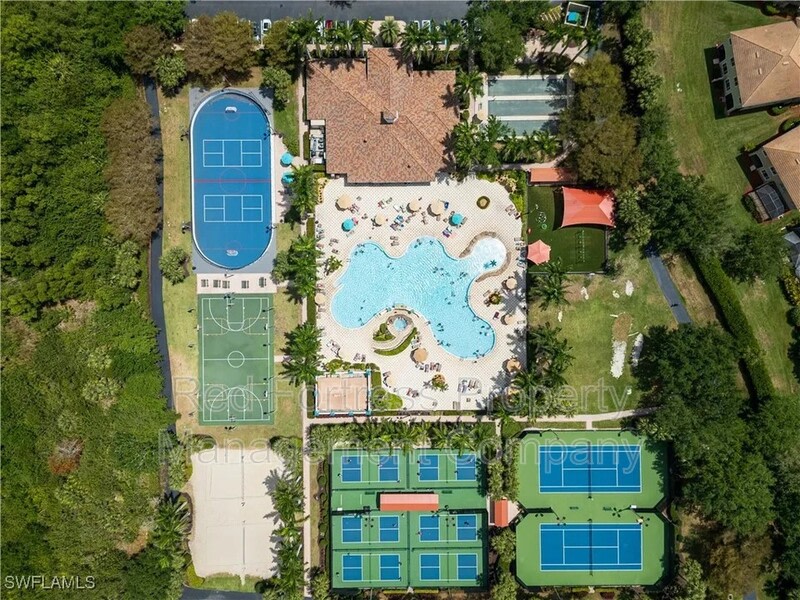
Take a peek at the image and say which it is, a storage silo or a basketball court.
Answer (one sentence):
Of the two, only a basketball court appears.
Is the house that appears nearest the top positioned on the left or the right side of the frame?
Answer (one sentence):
The house that appears nearest the top is on the right side of the image.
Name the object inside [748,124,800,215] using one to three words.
house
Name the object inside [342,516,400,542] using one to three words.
sports court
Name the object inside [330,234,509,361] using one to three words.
swimming pool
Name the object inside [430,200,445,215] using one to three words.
umbrella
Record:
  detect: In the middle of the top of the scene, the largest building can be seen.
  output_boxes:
[306,46,457,184]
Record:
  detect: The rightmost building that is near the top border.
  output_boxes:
[716,16,800,114]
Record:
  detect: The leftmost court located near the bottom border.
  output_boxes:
[187,447,290,583]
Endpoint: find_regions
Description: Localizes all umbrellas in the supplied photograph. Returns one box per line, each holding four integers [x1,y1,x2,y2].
[409,198,422,212]
[505,278,516,289]
[374,213,386,226]
[506,358,520,372]
[528,241,551,266]
[413,348,427,362]
[387,375,398,386]
[282,154,294,166]
[430,200,445,215]
[316,294,326,304]
[450,212,463,226]
[338,194,353,209]
[505,315,516,325]
[342,219,355,230]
